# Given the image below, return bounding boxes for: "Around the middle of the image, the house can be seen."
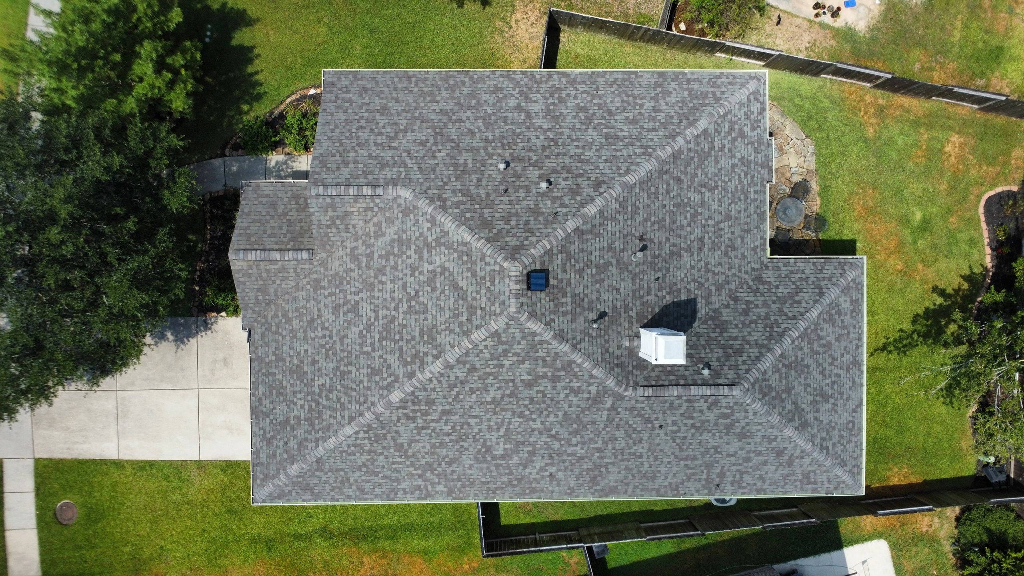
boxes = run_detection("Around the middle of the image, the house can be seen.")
[229,69,866,504]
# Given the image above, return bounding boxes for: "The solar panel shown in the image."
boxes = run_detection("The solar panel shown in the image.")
[531,272,546,290]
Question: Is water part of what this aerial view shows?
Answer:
No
